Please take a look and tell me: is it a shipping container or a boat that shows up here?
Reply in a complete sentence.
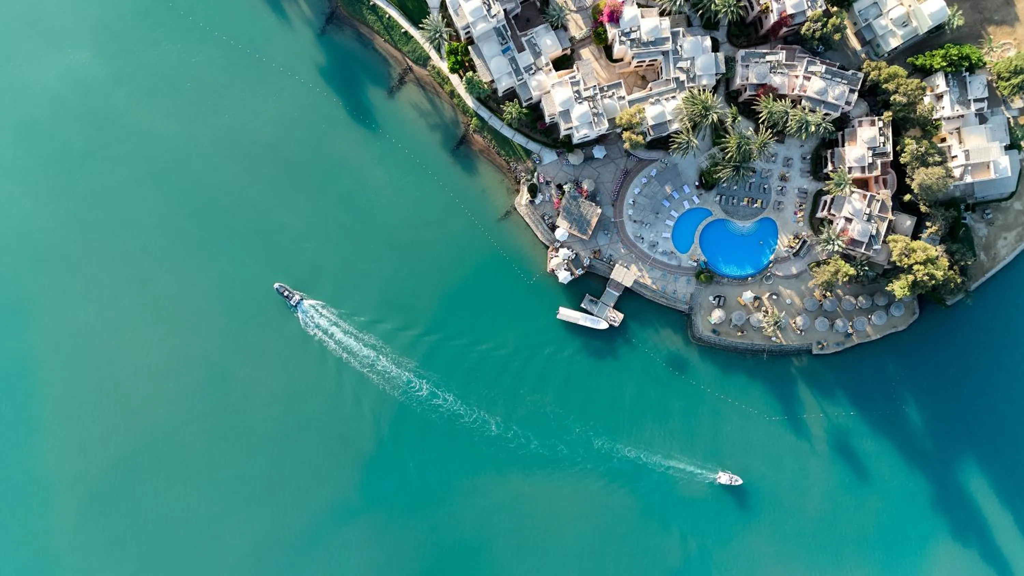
It is a boat that can be seen here.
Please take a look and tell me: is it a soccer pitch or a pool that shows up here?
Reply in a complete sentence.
Of the two, only a pool appears.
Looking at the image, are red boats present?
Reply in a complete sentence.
No, there's no red boat here.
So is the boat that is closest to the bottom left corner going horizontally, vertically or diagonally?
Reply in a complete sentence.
I'd say the boat that is closest to the bottom left corner is aligned diagonally in the picture.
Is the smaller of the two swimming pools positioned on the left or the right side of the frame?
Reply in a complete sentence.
The smaller of the two swimming pools is on the right side of the image.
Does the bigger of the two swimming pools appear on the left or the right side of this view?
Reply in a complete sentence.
The bigger of the two swimming pools appears in the right half of the scene.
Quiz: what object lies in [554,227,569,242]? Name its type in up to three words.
umbrella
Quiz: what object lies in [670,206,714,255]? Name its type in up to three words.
swimming pool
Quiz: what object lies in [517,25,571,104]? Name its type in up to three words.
house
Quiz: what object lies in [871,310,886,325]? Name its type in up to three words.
umbrella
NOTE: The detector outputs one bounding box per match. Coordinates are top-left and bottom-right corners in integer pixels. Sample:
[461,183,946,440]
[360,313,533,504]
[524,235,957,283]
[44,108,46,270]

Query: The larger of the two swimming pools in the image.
[698,215,780,279]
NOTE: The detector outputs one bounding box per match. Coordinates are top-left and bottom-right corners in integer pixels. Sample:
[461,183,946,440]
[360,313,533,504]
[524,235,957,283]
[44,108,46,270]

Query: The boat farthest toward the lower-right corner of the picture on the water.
[716,472,743,486]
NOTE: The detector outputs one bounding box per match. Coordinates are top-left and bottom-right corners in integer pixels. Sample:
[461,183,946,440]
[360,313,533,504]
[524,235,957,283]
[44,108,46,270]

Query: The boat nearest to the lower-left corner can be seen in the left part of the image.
[273,285,299,305]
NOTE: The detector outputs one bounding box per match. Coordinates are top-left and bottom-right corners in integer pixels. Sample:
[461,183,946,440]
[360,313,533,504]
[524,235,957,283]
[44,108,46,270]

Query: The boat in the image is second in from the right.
[556,306,609,329]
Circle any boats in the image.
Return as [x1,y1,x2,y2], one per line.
[273,285,299,305]
[716,472,743,486]
[556,306,609,329]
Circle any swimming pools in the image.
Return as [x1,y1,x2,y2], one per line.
[698,215,780,279]
[670,206,714,255]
